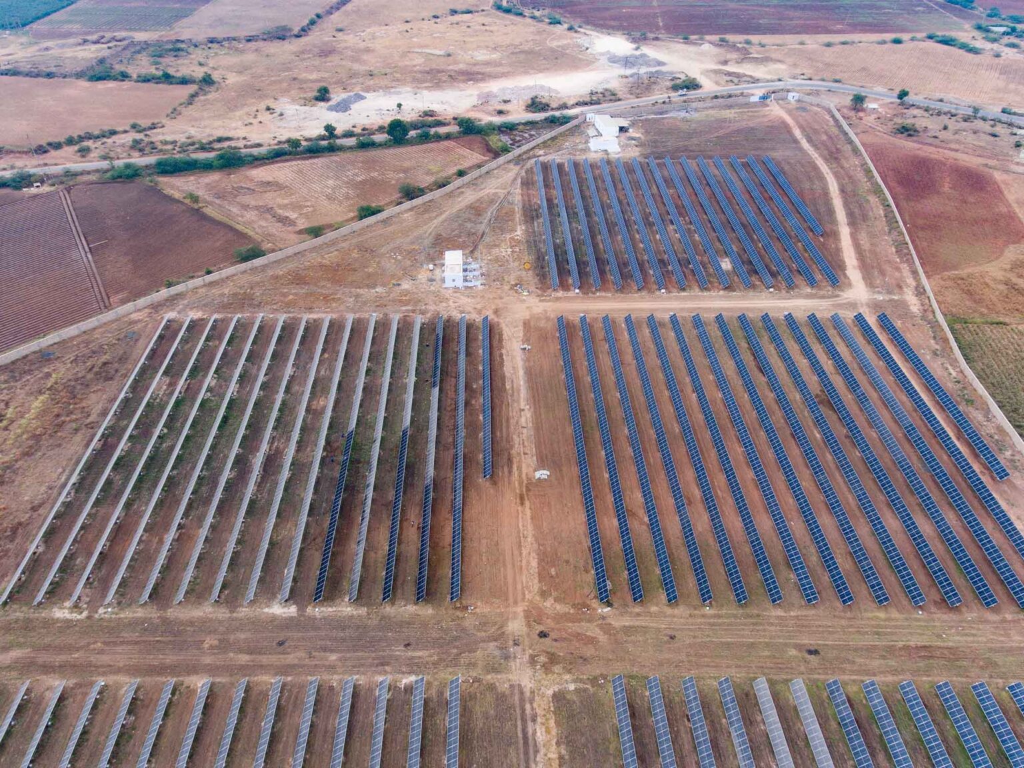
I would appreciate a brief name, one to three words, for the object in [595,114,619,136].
building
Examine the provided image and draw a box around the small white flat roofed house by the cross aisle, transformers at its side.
[443,251,466,288]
